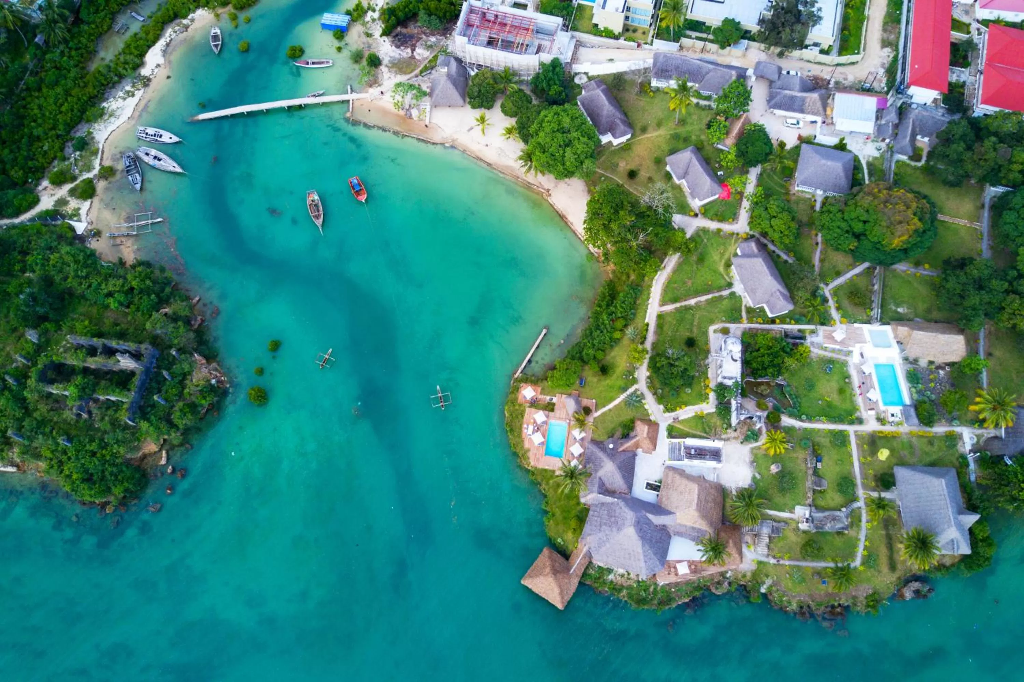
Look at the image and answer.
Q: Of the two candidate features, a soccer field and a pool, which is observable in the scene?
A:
pool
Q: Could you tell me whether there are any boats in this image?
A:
Yes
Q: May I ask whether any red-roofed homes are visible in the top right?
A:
Yes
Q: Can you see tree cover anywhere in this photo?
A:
Yes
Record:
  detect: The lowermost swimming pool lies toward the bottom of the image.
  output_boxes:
[543,420,570,459]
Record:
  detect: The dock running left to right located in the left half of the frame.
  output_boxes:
[191,94,369,125]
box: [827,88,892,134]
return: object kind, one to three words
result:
shed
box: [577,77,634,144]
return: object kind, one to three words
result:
house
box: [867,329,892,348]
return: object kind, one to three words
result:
swimming pool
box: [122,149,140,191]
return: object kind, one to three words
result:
boat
